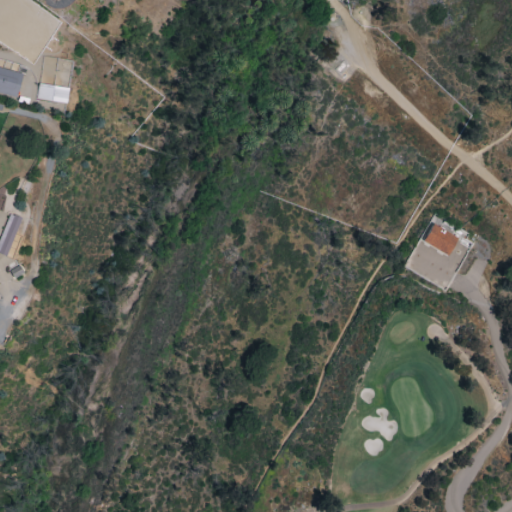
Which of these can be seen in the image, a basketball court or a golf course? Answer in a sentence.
It is a golf course that can be seen here.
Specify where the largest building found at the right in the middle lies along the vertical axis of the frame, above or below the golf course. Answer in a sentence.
The position of the largest building found at the right in the middle is above the golf course.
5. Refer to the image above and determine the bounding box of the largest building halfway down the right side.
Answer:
[426,224,459,255]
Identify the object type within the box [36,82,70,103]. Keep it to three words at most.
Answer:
shed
